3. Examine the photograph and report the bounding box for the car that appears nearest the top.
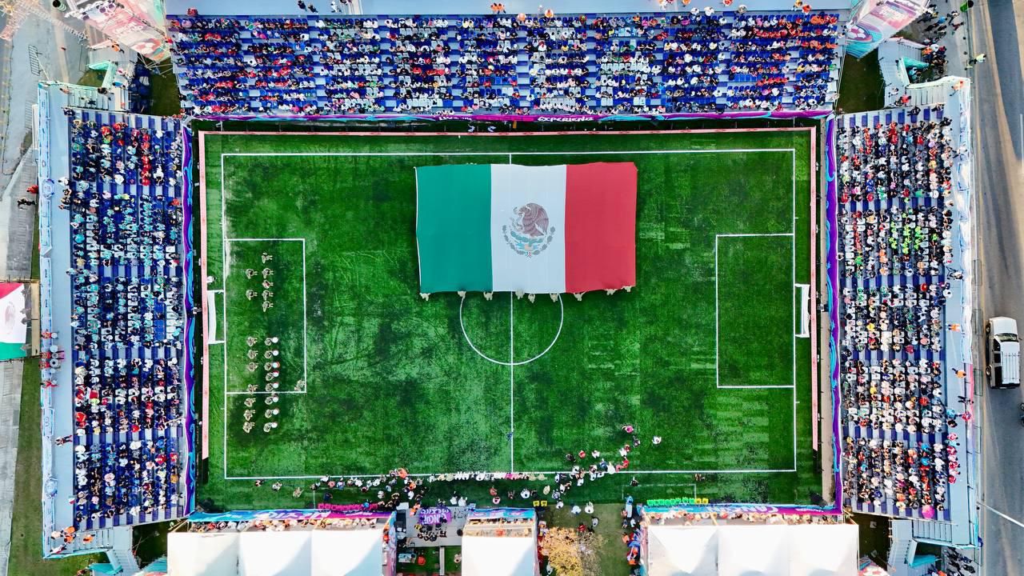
[986,317,1024,390]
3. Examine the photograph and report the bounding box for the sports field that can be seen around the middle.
[193,121,822,512]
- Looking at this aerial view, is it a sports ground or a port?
sports ground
